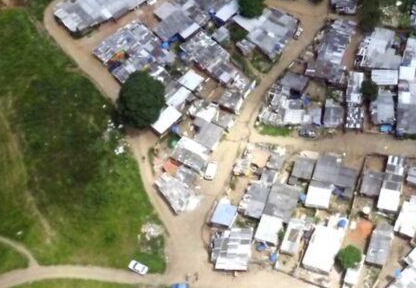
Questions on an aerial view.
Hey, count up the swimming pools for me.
none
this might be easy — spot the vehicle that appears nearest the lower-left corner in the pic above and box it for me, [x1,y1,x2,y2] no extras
[126,258,147,274]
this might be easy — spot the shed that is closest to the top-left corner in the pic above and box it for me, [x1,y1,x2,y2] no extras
[58,0,110,42]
